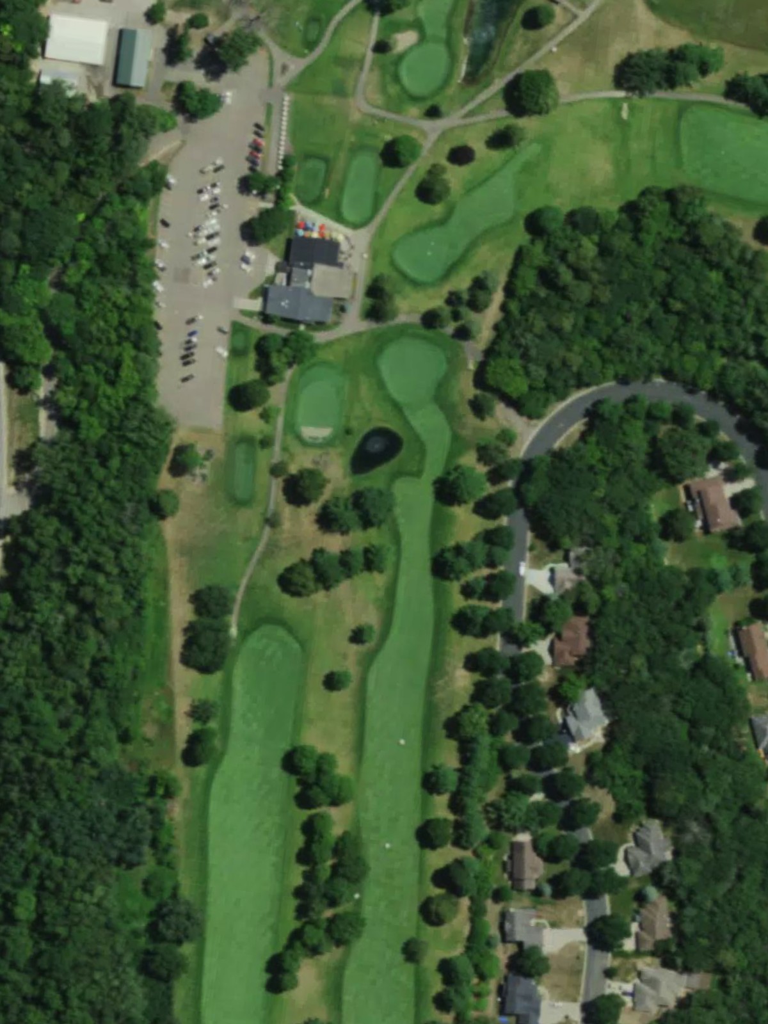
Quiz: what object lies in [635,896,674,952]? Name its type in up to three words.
house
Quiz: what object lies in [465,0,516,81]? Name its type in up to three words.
pond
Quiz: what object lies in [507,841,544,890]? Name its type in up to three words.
house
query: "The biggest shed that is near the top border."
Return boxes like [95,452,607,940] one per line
[45,14,108,66]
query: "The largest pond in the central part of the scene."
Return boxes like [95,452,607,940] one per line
[350,426,404,475]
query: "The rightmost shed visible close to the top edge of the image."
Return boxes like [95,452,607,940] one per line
[116,28,151,88]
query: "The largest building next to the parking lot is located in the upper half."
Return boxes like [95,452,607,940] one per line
[265,238,352,324]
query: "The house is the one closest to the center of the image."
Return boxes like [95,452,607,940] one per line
[554,549,580,590]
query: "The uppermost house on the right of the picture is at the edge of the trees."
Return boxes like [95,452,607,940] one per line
[688,476,742,534]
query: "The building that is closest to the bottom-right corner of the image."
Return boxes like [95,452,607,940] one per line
[631,961,712,1013]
